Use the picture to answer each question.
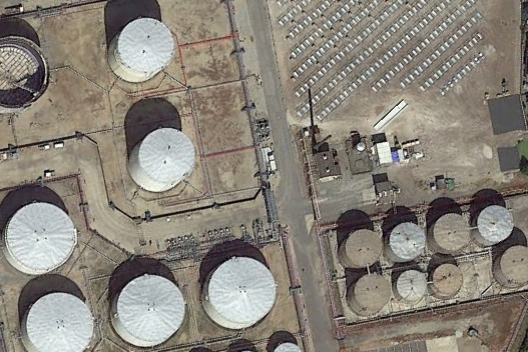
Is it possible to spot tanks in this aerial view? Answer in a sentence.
Yes, I can see a tank in this picture.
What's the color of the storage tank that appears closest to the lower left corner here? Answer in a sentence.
From above, the storage tank that appears closest to the lower left corner appears white.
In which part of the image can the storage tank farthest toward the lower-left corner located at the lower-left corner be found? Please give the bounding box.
[19,292,95,352]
